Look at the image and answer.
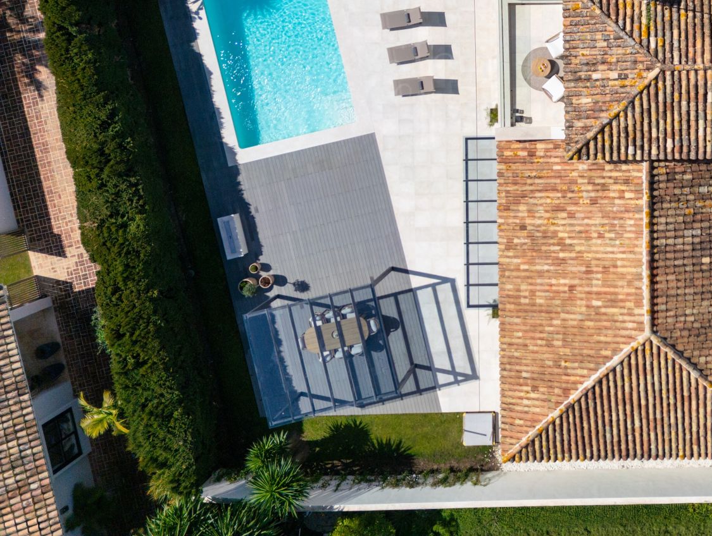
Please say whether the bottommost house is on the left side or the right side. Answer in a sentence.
The bottommost house appears in the left half of the scene.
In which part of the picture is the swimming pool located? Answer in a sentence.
The swimming pool is located in the top region of the scene.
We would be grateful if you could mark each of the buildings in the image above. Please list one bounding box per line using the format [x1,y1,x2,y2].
[0,267,112,536]
[464,0,712,470]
